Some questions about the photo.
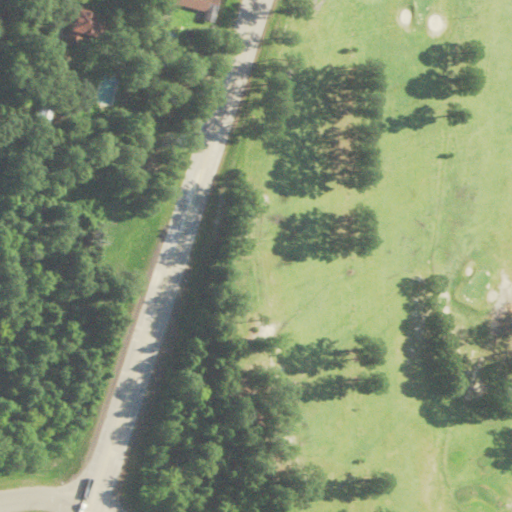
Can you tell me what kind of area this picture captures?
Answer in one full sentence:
The picture captures a golf course.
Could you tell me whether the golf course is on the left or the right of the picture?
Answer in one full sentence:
The golf course is on the right side of the image.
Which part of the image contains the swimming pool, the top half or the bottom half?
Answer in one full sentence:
You can find the swimming pool in the top half.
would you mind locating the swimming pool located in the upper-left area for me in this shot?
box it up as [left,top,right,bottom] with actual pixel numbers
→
[97,76,118,107]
